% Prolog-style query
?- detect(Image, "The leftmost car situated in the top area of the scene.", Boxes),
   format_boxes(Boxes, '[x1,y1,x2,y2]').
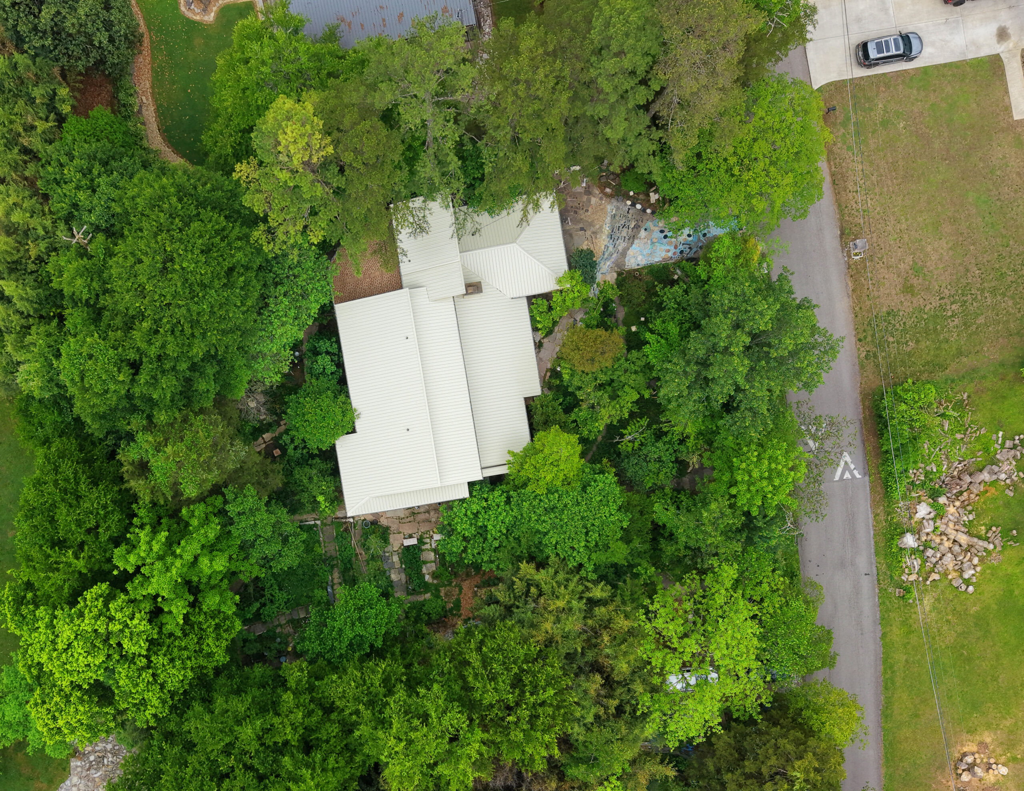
[853,26,925,70]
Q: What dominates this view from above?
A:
trees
